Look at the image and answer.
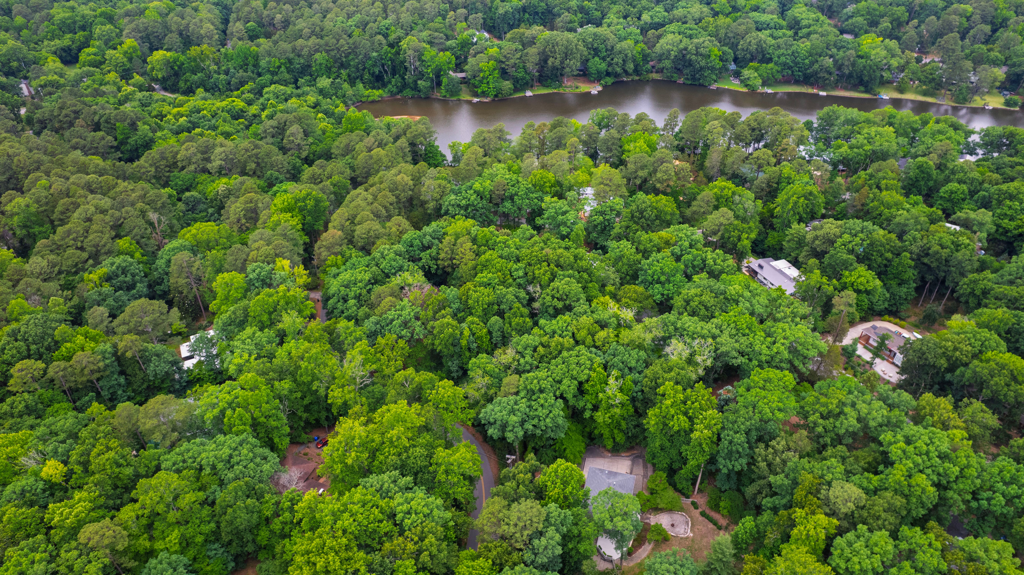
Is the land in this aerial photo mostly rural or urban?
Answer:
rural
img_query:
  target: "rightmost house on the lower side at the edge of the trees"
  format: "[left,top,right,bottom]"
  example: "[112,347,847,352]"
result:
[854,325,909,371]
